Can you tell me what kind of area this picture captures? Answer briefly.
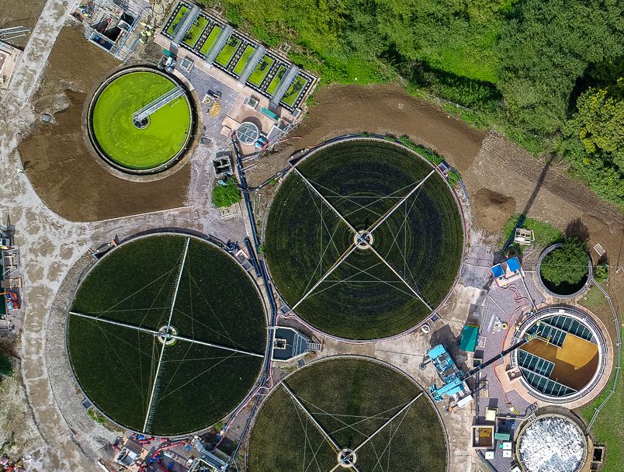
industrial area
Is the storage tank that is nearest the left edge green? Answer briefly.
Yes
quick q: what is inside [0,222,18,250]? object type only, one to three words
work vehicle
